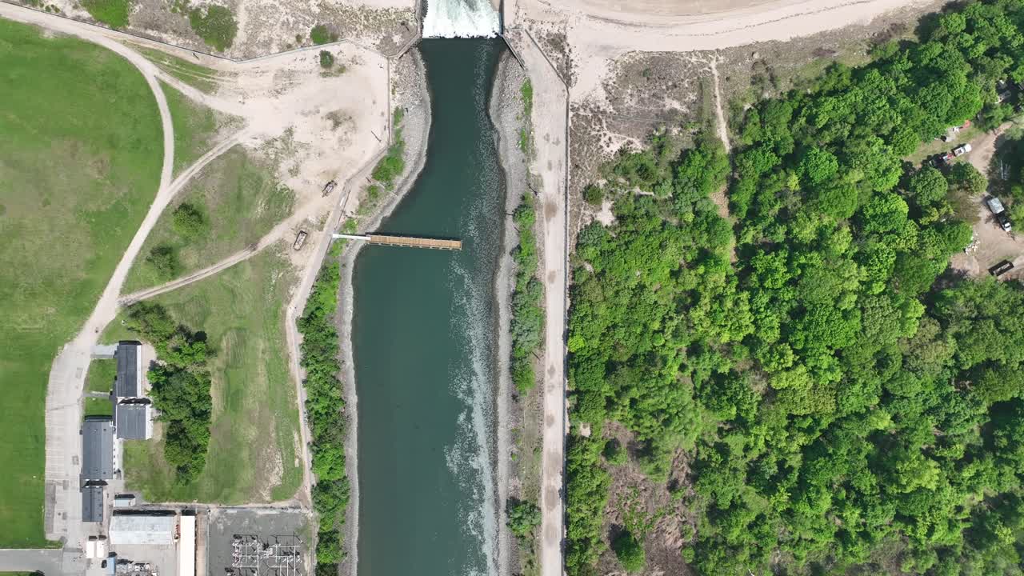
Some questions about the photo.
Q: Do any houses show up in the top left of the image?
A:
No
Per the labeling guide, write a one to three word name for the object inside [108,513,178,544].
building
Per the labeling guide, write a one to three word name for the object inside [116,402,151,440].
building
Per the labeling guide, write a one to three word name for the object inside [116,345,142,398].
house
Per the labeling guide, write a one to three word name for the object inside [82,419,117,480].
house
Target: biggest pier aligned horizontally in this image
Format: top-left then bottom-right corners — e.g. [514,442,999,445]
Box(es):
[365,231,463,251]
